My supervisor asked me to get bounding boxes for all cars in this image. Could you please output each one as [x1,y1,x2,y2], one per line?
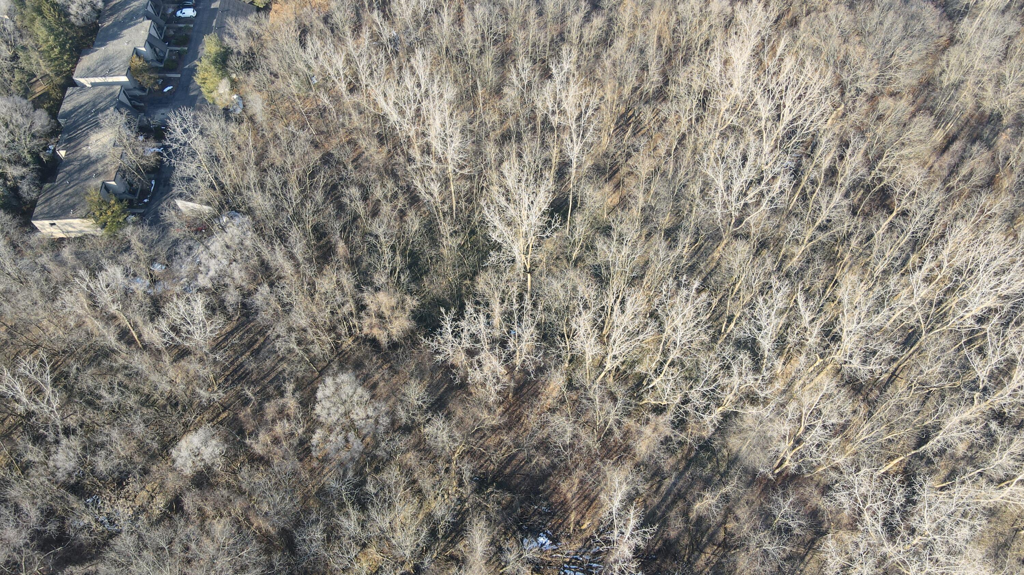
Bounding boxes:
[175,8,197,19]
[177,0,198,6]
